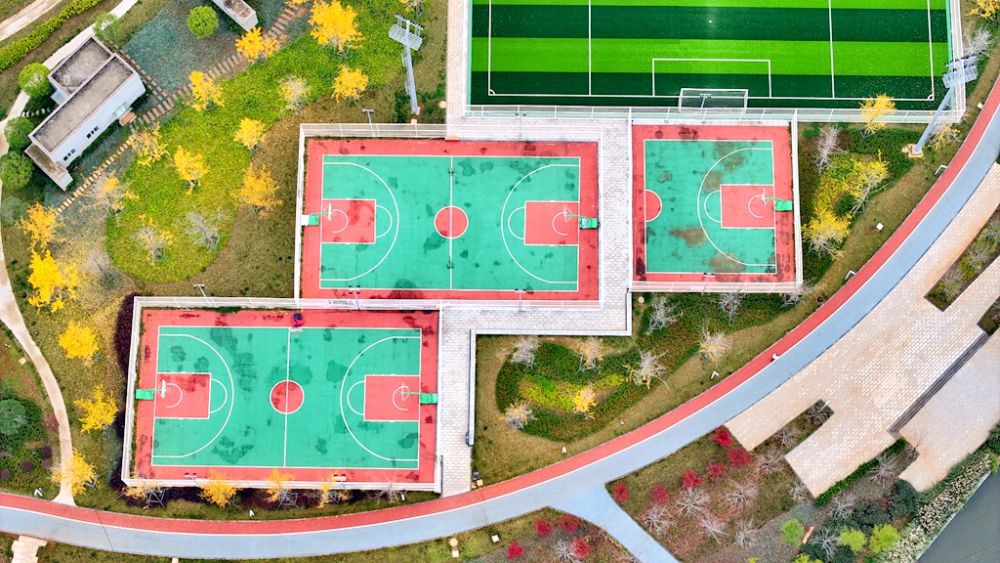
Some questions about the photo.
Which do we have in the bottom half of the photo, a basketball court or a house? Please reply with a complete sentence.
What appears in the bottom half of the photo is a basketball court.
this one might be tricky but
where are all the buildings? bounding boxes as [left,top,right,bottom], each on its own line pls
[25,37,146,187]
[208,0,258,27]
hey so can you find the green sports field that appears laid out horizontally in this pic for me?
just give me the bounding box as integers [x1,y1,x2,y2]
[467,0,957,120]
